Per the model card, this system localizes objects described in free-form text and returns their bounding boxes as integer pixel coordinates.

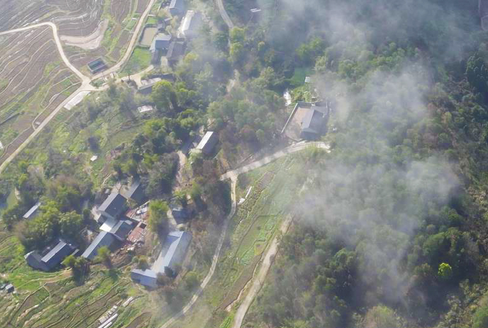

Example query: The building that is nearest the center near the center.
[195,133,221,162]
